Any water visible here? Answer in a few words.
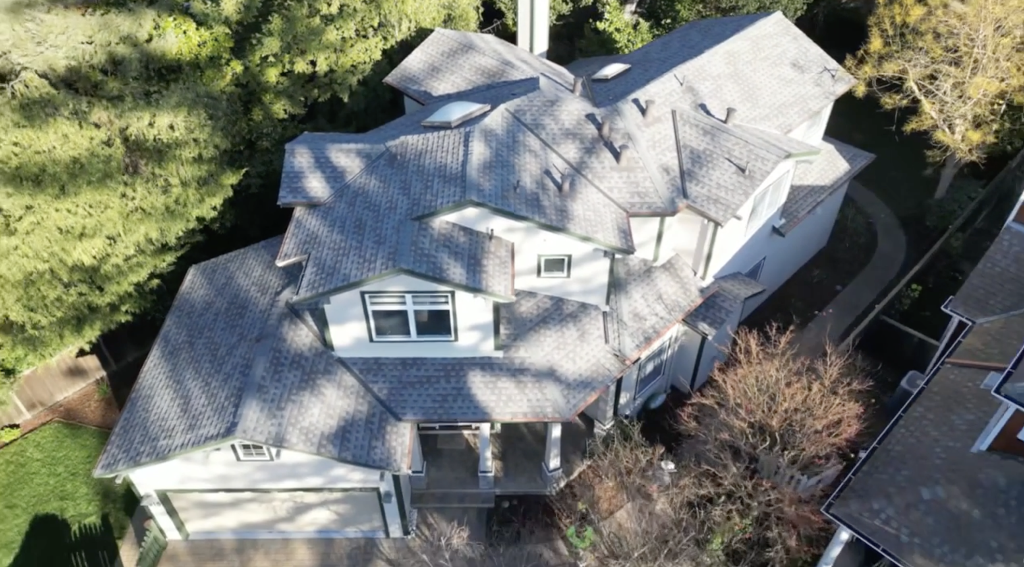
No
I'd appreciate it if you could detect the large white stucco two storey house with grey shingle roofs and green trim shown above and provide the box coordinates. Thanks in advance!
[92,0,876,539]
